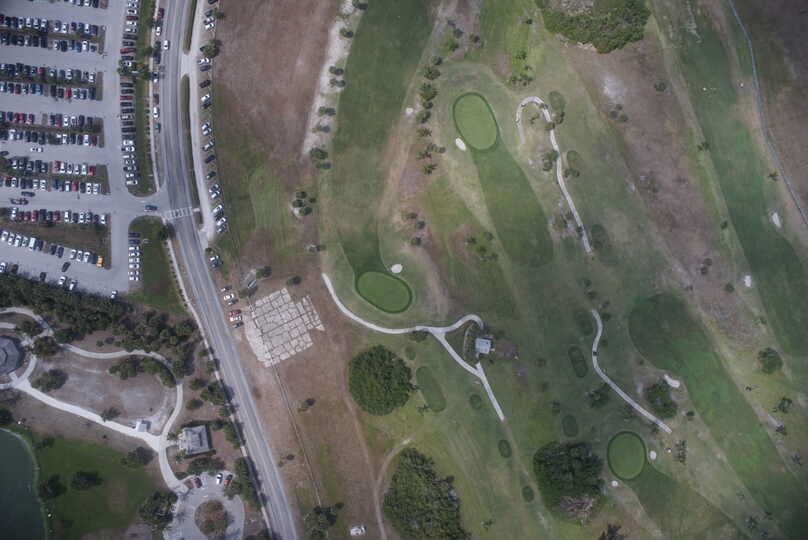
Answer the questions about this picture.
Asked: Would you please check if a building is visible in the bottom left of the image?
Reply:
Yes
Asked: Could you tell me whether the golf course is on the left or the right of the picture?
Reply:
right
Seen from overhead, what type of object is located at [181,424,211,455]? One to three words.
building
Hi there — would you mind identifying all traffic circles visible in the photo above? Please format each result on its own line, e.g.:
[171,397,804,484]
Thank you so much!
[194,501,228,538]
